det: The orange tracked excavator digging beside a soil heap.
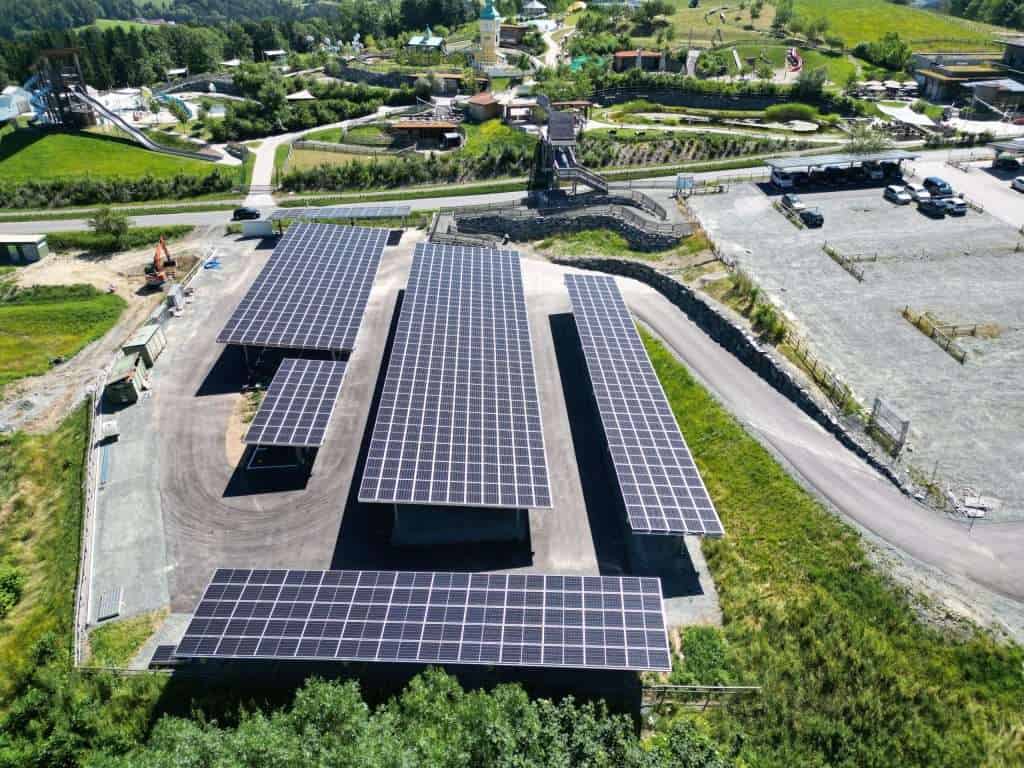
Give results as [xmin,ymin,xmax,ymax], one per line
[137,238,179,286]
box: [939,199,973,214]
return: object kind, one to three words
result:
car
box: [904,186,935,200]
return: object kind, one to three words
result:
car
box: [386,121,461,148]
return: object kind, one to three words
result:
barn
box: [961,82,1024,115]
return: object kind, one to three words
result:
building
